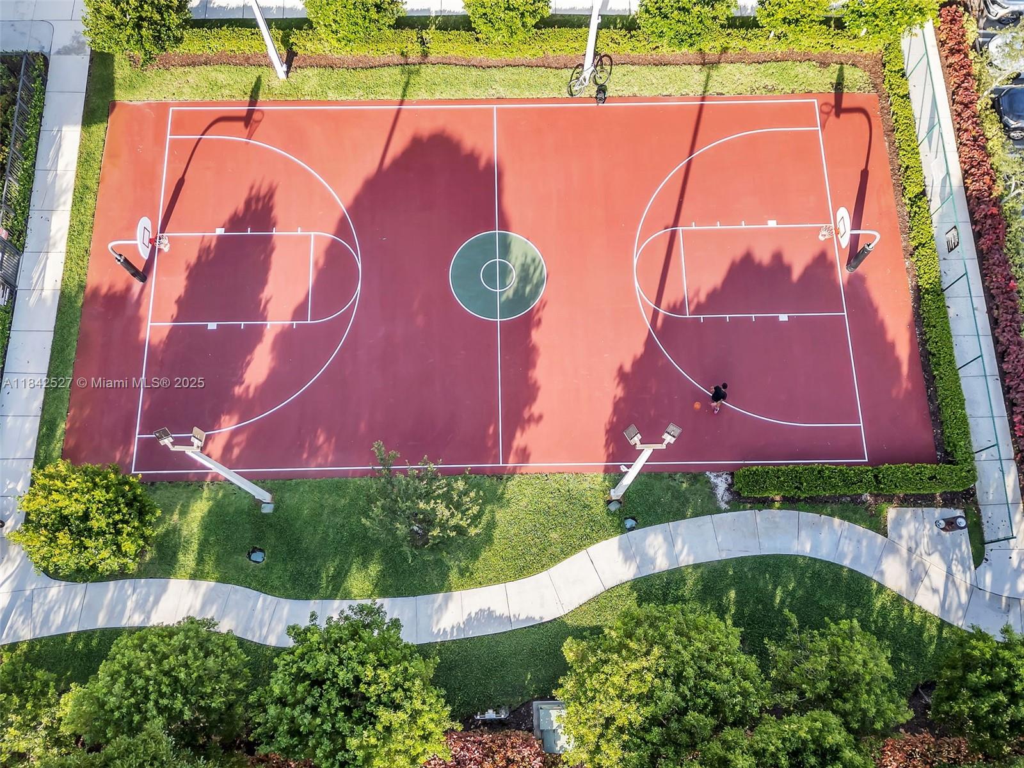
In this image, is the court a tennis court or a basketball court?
basketball court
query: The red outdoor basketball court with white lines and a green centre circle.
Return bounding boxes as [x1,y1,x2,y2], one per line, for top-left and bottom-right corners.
[60,93,937,483]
